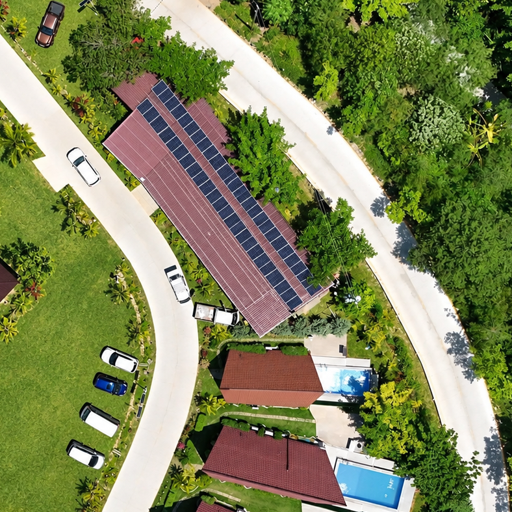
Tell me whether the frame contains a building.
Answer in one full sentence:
Yes, a building is visible in the scene.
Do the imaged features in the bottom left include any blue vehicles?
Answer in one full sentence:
Yes, a blue vehicle shows up in the bottom left.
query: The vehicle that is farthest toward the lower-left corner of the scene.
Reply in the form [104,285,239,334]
[66,441,106,467]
